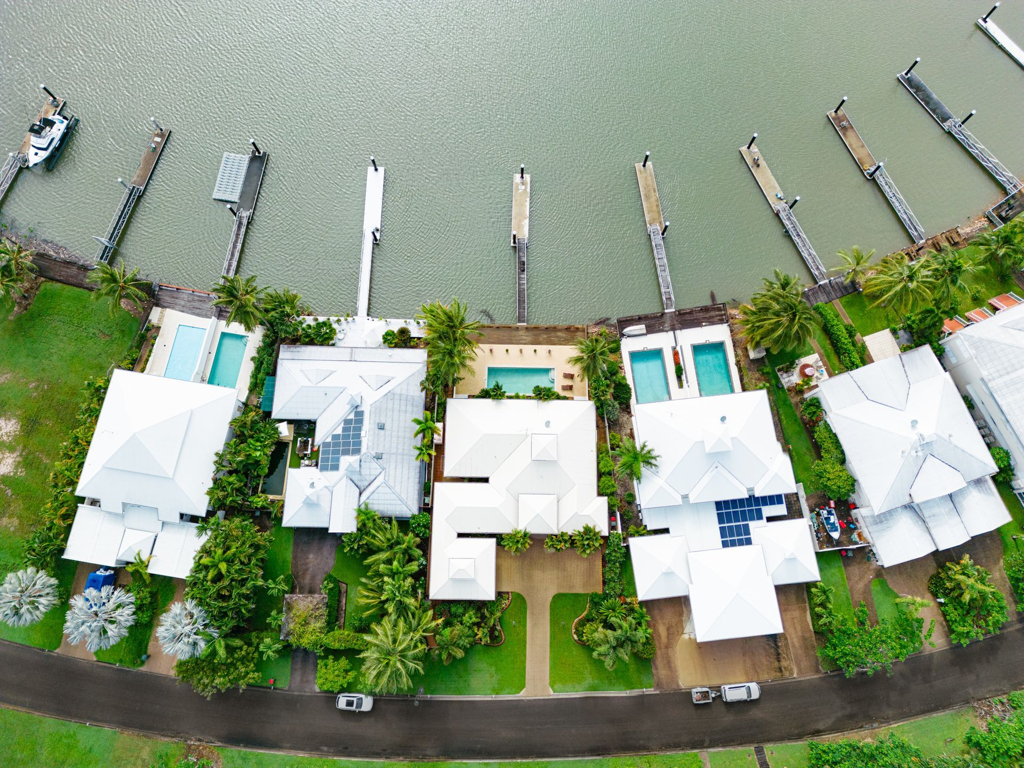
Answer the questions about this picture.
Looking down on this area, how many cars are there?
two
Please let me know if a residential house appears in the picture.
Yes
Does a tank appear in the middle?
No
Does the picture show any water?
Yes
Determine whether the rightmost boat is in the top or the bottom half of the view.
bottom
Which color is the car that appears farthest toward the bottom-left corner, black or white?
white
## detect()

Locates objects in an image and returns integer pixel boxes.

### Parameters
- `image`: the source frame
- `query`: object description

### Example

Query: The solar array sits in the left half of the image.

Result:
[319,410,363,471]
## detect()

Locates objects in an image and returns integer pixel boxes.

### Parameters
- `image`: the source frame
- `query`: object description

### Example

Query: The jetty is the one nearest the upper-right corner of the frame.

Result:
[976,16,1024,73]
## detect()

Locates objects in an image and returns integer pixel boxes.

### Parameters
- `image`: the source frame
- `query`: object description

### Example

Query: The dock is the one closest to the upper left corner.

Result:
[18,96,67,155]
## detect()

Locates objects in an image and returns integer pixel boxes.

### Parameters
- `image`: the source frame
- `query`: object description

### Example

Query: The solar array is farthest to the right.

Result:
[716,494,784,548]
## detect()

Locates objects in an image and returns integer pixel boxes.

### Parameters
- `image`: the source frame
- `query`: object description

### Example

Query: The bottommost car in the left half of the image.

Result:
[336,692,374,713]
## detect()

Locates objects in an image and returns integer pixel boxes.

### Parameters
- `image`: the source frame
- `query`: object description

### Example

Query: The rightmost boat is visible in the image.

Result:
[819,508,840,538]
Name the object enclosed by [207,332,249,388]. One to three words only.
swimming pool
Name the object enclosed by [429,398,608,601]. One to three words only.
house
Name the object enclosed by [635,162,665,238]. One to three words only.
pier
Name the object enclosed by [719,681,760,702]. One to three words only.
car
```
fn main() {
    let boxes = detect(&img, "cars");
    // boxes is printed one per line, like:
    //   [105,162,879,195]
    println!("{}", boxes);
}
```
[719,681,760,702]
[336,692,374,713]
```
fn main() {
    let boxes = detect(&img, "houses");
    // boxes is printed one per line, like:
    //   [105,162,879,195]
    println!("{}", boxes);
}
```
[628,390,820,643]
[940,296,1024,500]
[429,398,608,601]
[62,369,242,579]
[272,345,428,533]
[812,344,1012,567]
